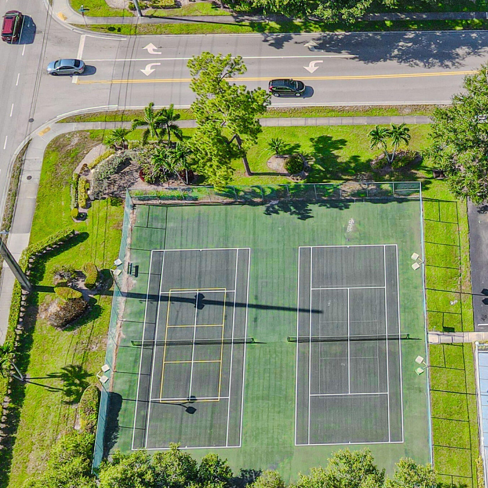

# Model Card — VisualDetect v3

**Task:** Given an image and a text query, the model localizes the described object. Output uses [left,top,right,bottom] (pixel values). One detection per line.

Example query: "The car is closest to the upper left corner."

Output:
[1,14,21,45]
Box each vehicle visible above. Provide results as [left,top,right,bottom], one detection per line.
[269,77,307,99]
[47,58,86,77]
[1,14,21,45]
